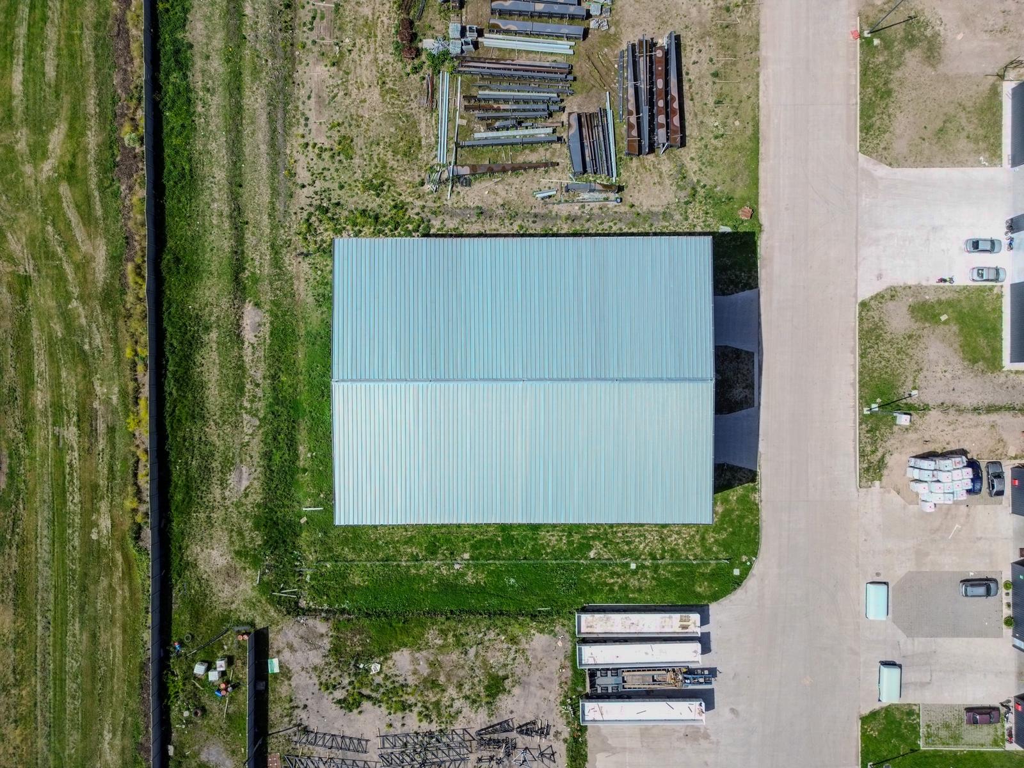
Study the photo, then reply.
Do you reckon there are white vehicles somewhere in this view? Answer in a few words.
Yes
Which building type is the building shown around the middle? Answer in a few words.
warehouse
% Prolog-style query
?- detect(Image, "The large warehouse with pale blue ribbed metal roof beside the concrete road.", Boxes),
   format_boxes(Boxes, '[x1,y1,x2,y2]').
[330,236,716,526]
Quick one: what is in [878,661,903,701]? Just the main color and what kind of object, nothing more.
white vehicle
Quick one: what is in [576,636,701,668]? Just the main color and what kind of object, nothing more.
white trailer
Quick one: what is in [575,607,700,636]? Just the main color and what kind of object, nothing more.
white trailer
